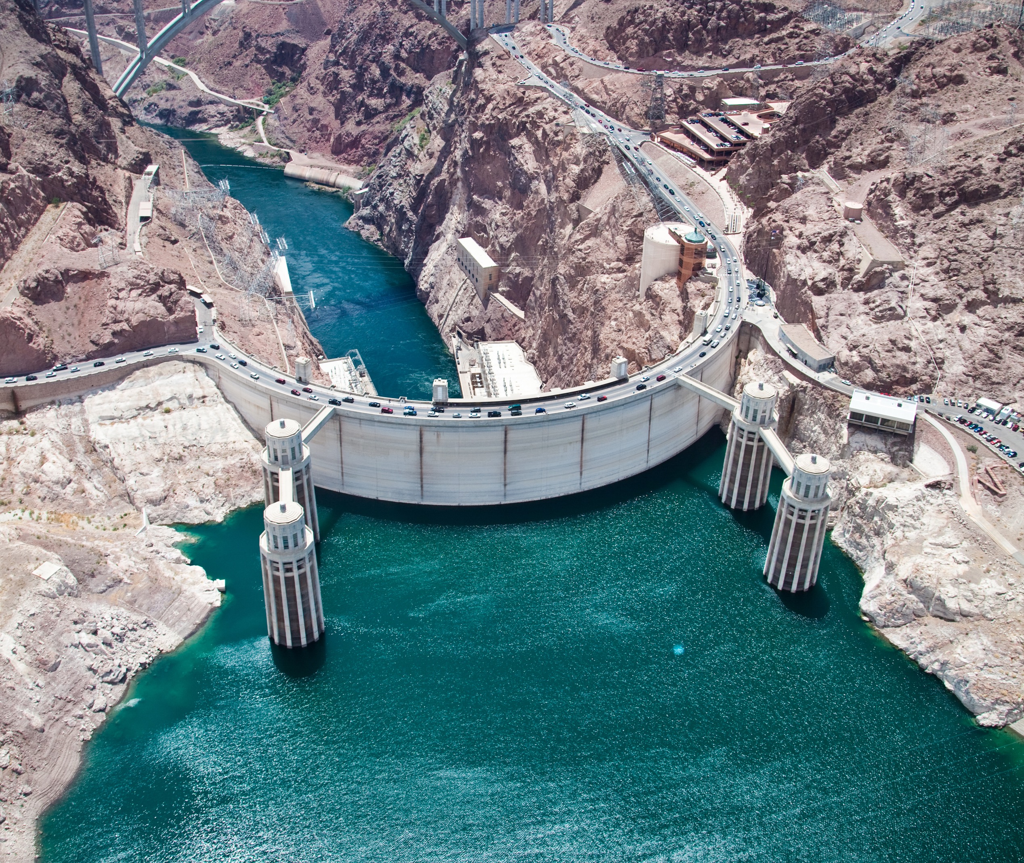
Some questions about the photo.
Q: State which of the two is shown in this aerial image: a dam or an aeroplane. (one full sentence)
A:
The image shows a dam.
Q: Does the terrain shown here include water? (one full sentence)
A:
Yes, water shows up in the scene.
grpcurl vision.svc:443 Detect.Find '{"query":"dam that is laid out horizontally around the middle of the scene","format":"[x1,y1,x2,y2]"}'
[180,319,739,502]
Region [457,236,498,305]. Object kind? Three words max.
building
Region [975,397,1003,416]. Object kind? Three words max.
building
